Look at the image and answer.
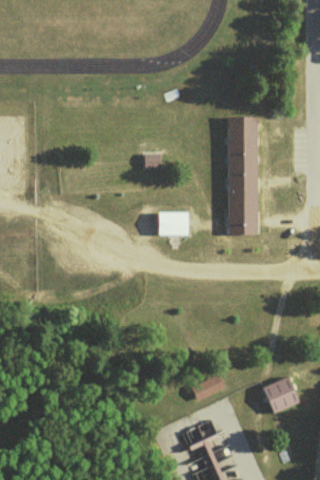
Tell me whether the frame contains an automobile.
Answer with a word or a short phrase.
No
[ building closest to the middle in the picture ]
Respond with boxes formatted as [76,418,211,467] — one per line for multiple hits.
[158,211,190,236]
